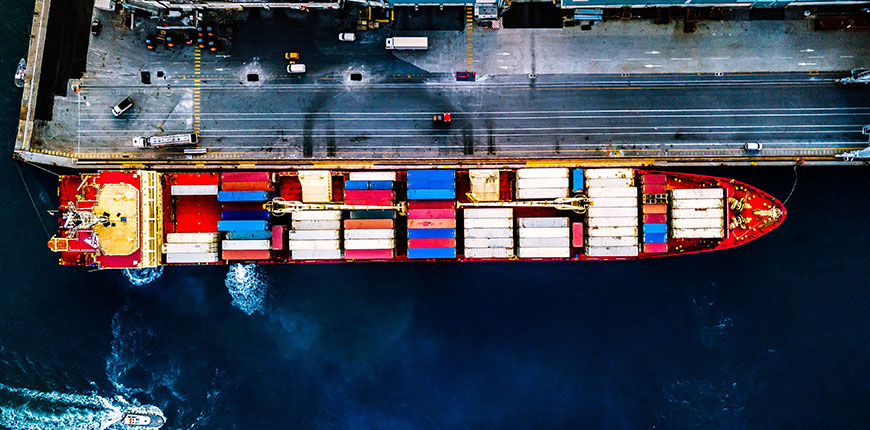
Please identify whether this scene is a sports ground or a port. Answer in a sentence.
The picture captures a port.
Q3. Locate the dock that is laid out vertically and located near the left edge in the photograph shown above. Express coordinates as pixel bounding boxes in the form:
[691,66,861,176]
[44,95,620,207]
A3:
[15,0,51,149]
